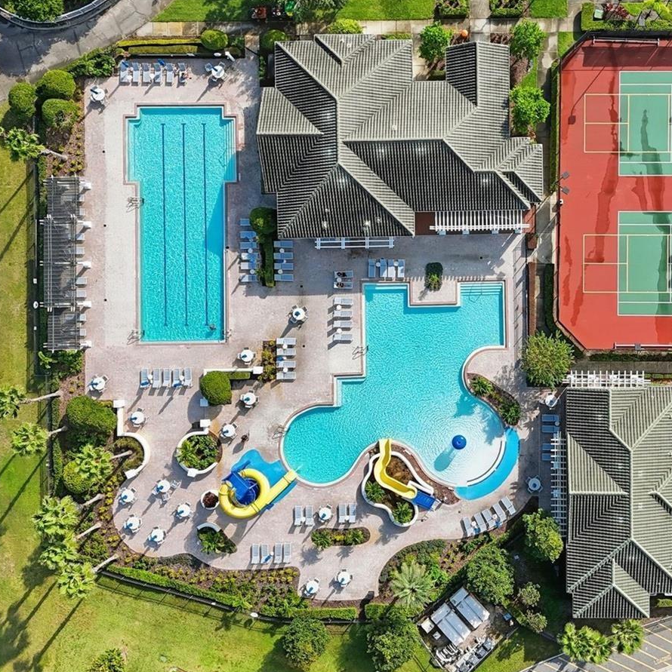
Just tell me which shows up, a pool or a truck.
pool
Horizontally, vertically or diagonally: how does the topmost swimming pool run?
vertically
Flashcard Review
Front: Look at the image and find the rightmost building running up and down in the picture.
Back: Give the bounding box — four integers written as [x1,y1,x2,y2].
[566,386,672,619]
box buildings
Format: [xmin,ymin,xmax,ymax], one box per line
[250,32,543,238]
[566,386,672,619]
